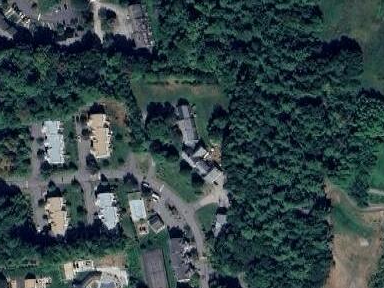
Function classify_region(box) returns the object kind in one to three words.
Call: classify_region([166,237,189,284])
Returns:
house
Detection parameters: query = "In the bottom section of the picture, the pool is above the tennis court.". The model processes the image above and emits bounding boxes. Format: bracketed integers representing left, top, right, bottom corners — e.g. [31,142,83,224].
[129,197,149,236]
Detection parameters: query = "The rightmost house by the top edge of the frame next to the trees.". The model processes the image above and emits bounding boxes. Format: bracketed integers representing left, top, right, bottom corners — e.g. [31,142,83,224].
[126,5,152,49]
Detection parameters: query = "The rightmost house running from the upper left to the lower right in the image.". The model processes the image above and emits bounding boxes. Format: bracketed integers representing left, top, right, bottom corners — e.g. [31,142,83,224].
[184,145,222,187]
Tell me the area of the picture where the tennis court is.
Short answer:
bottom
